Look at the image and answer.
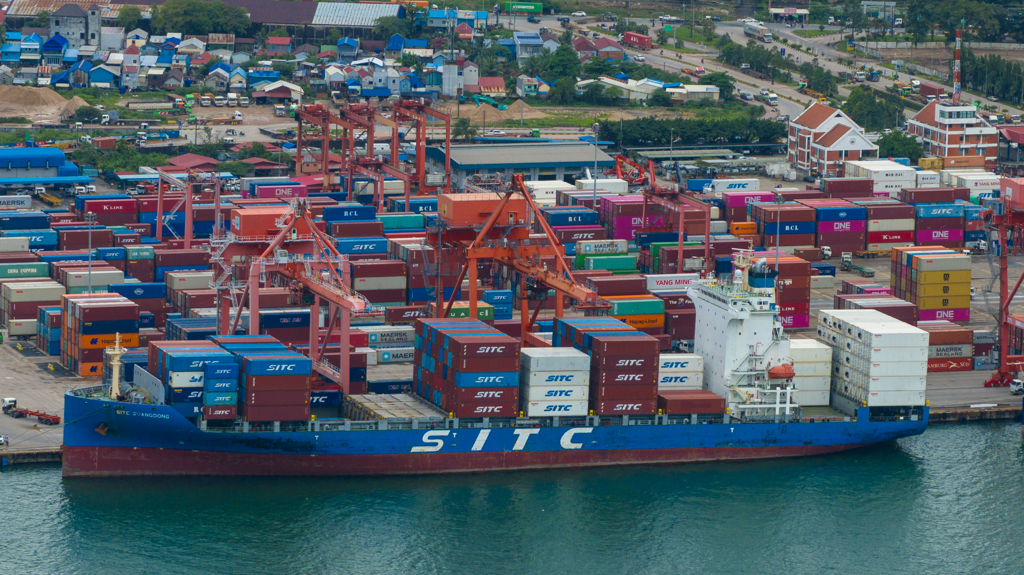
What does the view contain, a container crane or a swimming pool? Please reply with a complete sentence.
There is a container crane in the scene.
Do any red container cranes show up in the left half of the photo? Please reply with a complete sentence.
Yes, a red container crane appears in the left half of the photo.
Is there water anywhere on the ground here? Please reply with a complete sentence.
Yes, there is water in the image.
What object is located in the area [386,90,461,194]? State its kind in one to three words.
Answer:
container crane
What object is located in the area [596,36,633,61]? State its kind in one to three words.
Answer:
house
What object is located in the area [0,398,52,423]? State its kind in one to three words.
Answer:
truck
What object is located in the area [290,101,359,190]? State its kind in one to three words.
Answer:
container crane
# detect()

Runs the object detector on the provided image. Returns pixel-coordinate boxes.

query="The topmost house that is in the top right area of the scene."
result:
[762,8,812,23]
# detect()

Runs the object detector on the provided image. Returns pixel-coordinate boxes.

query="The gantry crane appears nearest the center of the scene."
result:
[418,164,609,348]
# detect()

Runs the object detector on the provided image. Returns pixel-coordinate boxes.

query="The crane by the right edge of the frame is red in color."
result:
[986,174,1024,386]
